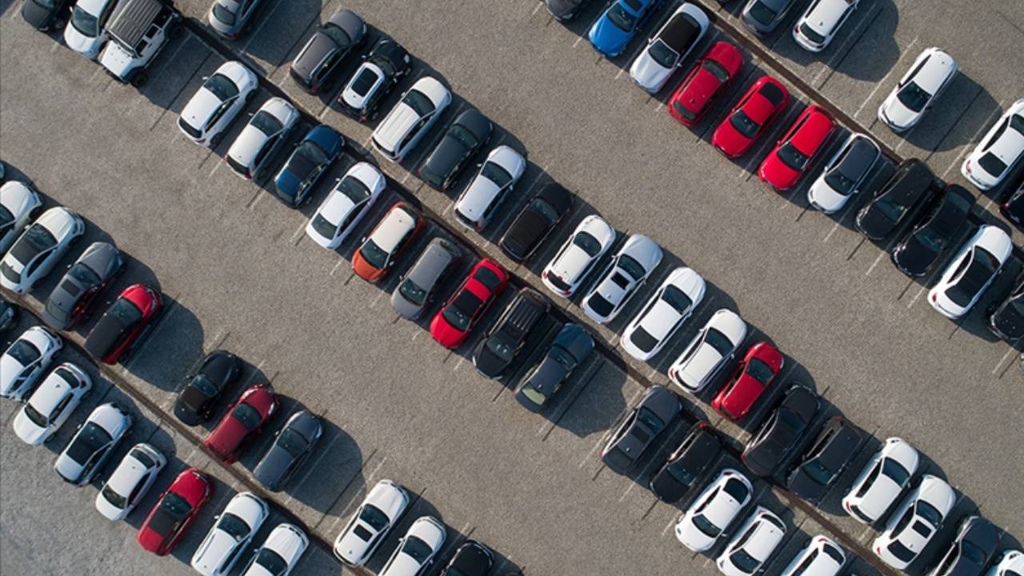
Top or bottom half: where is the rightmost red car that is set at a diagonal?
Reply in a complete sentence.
The top half of the photo is where the rightmost red car that is set at a diagonal is.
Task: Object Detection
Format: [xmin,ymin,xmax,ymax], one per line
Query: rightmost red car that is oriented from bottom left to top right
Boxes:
[758,104,839,192]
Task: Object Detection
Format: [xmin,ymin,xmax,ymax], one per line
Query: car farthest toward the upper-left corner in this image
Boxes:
[28,0,80,37]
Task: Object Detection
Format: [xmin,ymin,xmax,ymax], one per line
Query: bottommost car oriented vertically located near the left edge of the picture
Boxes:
[0,301,25,358]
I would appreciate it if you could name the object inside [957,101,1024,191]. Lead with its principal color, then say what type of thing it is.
white car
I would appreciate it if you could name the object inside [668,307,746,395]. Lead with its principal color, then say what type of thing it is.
white car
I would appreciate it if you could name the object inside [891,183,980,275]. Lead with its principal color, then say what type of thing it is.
black car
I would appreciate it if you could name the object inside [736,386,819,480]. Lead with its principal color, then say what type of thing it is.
black car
